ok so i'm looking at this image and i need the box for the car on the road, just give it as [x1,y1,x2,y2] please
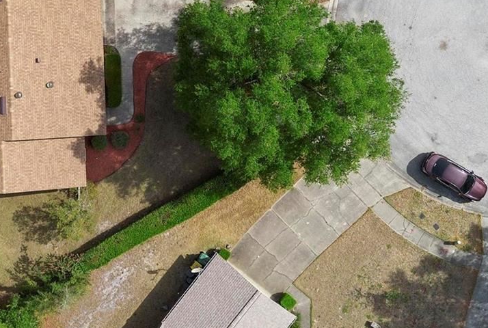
[416,151,487,202]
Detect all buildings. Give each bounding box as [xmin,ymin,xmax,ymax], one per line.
[0,0,106,194]
[146,252,298,328]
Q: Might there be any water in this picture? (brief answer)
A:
No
